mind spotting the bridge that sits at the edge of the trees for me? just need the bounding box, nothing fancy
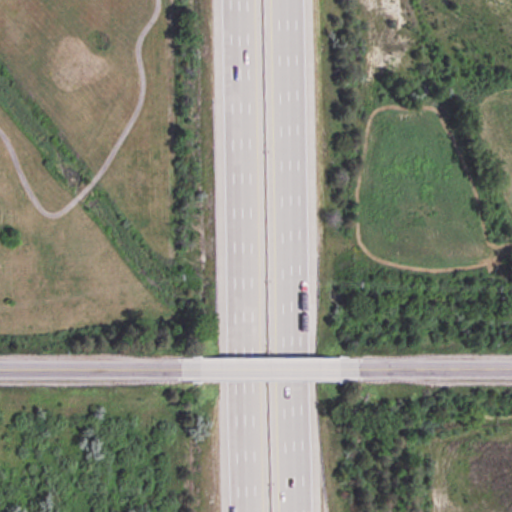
[184,356,360,384]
